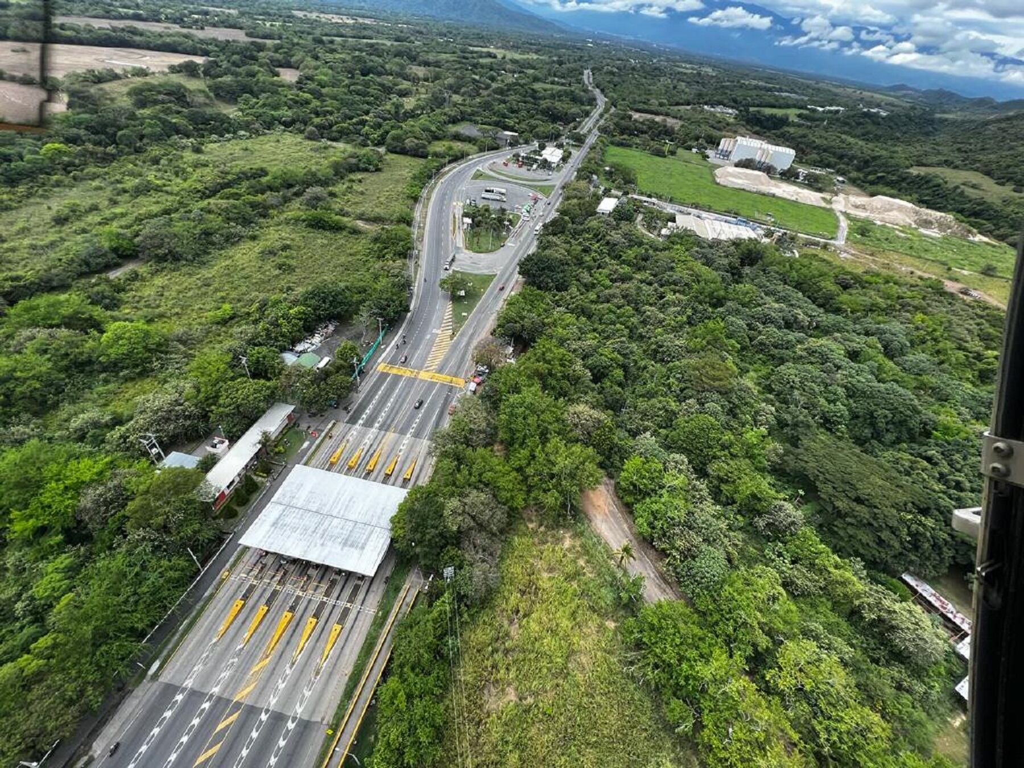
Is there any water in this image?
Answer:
No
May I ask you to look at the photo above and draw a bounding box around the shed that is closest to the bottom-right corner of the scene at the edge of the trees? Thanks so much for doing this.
[954,678,973,712]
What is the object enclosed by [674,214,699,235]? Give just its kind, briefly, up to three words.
building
